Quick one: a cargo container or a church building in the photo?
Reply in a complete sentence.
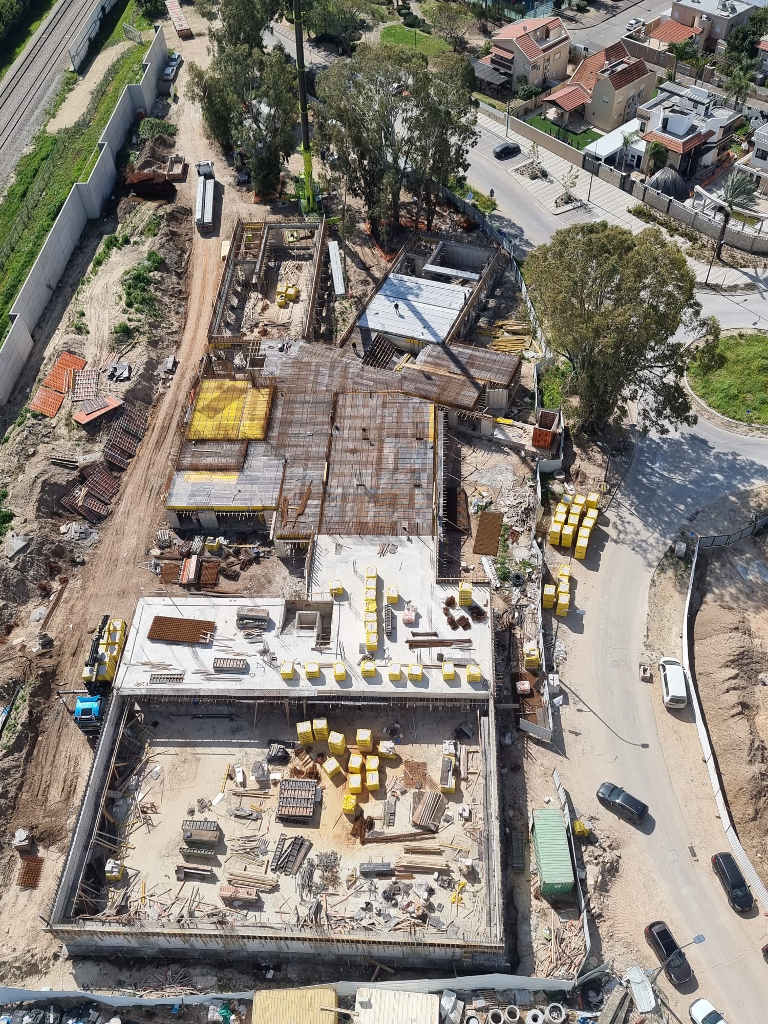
Visible in the photo is a cargo container.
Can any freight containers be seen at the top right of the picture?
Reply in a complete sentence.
No, no freight container is visible at the top right of the picture.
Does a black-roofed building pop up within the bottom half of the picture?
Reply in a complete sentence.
No, the scene shows no black-roofed building within the bottom half of the picture.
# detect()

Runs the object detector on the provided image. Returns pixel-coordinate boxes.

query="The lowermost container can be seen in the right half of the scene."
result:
[530,807,574,894]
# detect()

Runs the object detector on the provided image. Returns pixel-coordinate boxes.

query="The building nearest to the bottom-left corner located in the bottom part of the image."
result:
[253,988,342,1024]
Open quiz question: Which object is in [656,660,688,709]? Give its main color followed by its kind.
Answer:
white car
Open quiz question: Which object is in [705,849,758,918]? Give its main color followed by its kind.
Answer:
black car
